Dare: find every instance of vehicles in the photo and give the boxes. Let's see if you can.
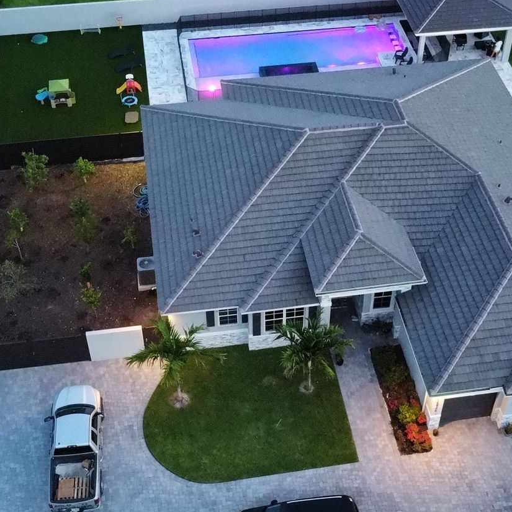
[241,490,360,512]
[43,386,106,512]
